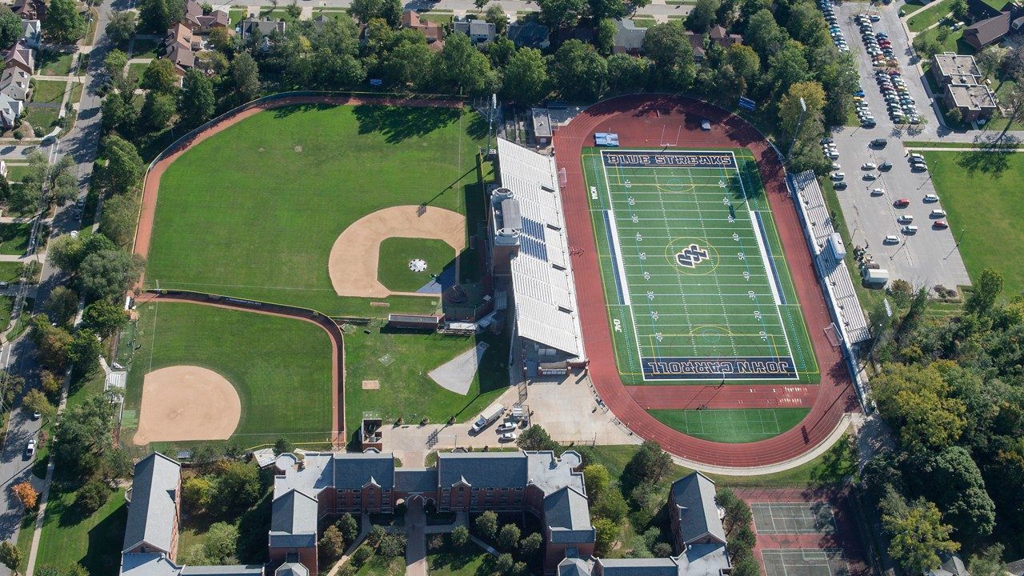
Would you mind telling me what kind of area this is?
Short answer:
sports ground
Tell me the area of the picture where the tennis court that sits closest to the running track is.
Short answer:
bottom right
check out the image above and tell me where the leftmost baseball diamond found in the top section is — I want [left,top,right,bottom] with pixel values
[133,94,490,318]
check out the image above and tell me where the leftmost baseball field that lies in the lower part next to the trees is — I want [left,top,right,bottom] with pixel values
[116,294,345,454]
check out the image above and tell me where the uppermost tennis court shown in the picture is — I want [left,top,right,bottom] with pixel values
[748,500,842,536]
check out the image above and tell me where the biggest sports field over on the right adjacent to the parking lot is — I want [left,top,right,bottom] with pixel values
[580,145,822,386]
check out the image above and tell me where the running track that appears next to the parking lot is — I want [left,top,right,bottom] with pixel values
[557,94,849,467]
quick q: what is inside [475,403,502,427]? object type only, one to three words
truck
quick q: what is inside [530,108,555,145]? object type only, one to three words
building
